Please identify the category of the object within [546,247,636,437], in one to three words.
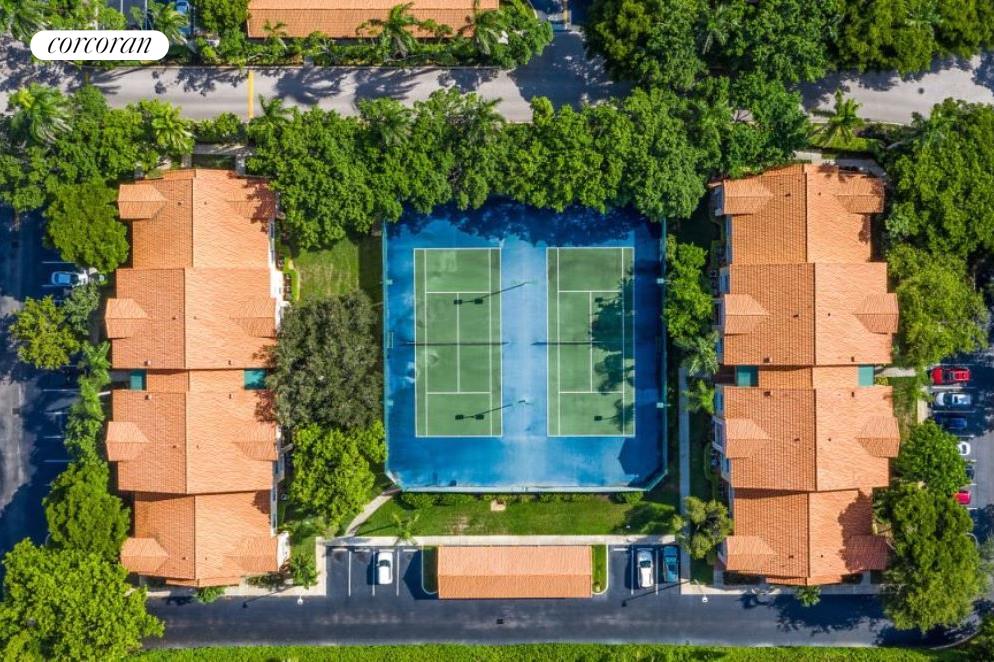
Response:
tennis court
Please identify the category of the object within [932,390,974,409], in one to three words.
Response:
car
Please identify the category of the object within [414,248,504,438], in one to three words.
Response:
tennis court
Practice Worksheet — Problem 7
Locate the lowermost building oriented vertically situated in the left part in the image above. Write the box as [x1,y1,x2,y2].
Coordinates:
[105,170,294,587]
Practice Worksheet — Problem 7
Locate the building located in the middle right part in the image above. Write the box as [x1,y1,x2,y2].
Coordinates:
[708,159,900,586]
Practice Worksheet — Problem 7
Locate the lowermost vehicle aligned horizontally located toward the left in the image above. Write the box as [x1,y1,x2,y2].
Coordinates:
[52,271,91,289]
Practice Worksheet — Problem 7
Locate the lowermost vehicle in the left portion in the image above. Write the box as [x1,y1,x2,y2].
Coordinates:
[376,548,394,584]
